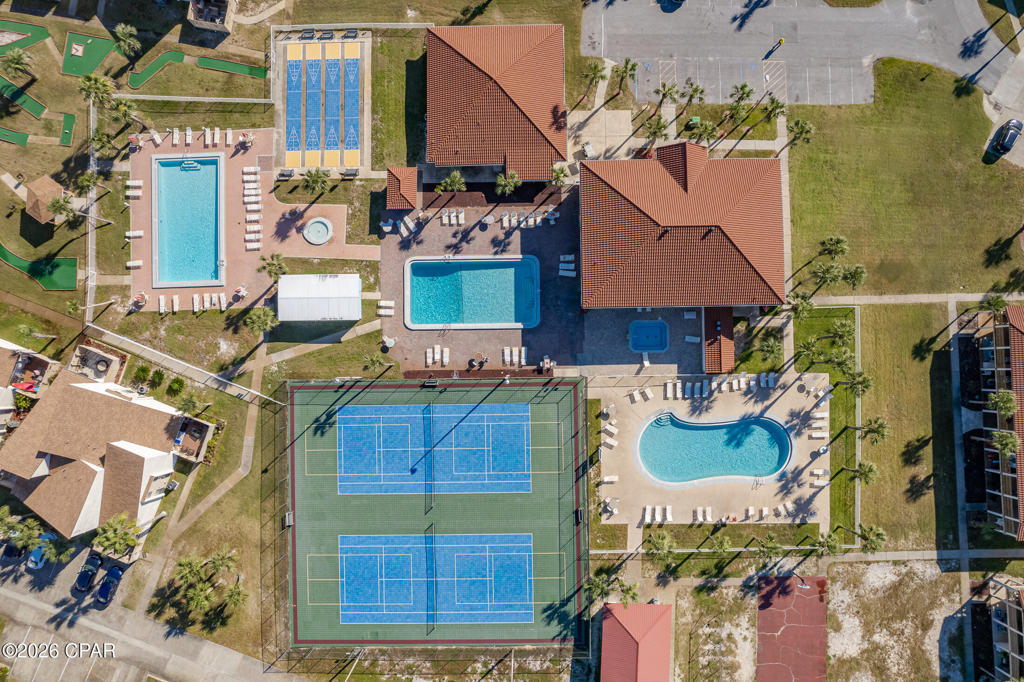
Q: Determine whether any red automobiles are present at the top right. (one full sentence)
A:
No, no red automobile can be made out at the top right.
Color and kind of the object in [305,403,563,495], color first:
blue tennis court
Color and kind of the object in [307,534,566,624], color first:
blue tennis court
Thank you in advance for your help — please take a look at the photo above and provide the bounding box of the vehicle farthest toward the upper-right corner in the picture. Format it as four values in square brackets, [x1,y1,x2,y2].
[993,117,1022,156]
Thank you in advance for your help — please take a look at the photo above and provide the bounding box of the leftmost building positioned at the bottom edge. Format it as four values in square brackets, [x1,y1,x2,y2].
[598,594,672,682]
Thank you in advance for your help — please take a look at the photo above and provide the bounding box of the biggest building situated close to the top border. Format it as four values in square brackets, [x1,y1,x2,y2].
[423,24,568,183]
